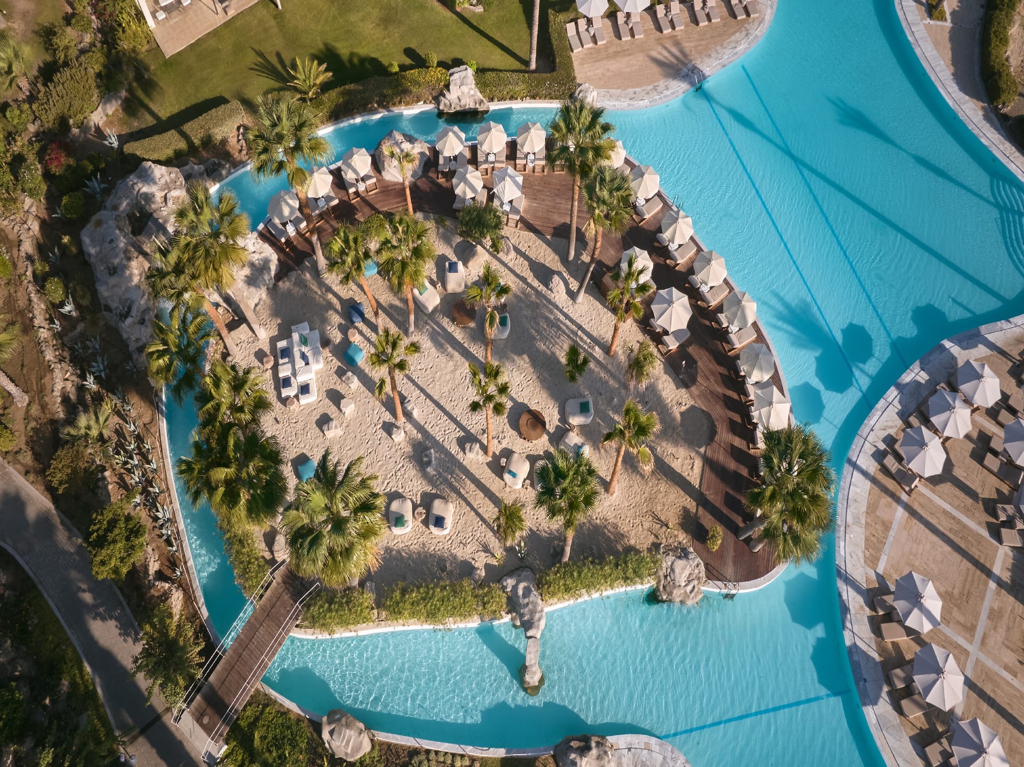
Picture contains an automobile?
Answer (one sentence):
No, there is no automobile in the image.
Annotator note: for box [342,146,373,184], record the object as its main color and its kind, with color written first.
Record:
white umbrella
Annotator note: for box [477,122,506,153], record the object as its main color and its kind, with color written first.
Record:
white umbrella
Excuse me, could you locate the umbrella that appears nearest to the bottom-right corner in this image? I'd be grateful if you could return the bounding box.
[952,715,1008,767]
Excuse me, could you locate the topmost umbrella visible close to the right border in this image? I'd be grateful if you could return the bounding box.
[956,357,999,409]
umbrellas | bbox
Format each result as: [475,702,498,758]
[477,122,506,153]
[269,189,301,227]
[956,357,999,409]
[910,645,964,711]
[692,250,726,295]
[738,341,773,388]
[752,383,793,432]
[724,290,756,328]
[650,287,692,338]
[899,422,946,479]
[578,0,609,21]
[436,125,466,163]
[629,166,659,209]
[342,146,373,184]
[603,137,633,173]
[304,165,334,212]
[952,715,1008,767]
[661,209,693,256]
[492,167,523,200]
[928,388,972,441]
[622,247,653,280]
[894,570,945,634]
[617,0,650,21]
[515,123,544,168]
[452,166,482,212]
